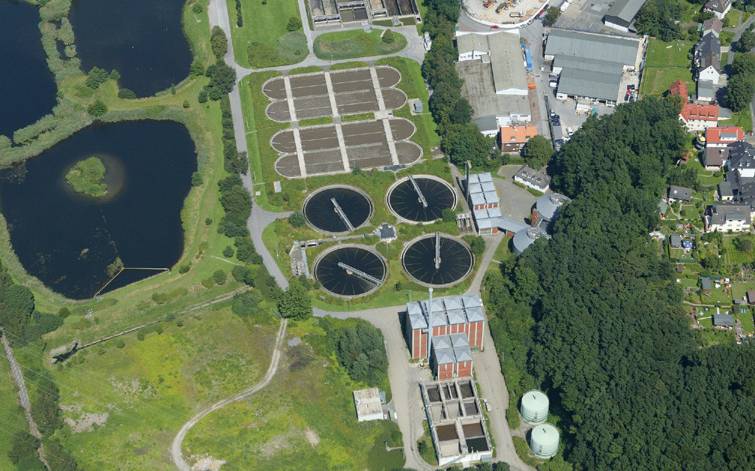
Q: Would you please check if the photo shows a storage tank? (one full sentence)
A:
Yes, there's a storage tank here.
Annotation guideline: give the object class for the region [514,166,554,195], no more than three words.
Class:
house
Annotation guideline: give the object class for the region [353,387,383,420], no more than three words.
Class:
building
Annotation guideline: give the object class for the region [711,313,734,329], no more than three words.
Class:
shed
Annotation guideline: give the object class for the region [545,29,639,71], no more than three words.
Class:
building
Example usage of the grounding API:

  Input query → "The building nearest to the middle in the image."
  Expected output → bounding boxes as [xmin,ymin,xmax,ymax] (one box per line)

[375,226,399,244]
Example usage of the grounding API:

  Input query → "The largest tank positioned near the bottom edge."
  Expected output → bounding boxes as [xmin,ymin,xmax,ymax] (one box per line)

[422,376,493,464]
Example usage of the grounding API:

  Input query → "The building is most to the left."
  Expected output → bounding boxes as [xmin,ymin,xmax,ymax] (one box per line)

[282,231,307,278]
